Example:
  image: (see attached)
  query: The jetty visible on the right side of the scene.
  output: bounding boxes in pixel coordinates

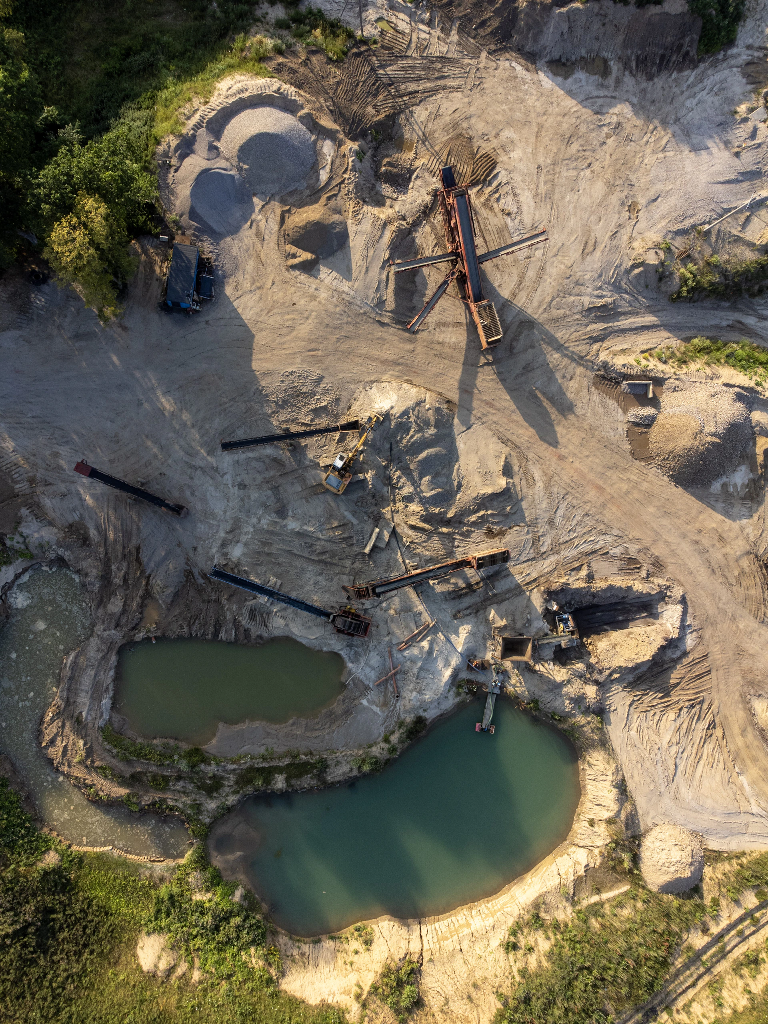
[474,692,497,734]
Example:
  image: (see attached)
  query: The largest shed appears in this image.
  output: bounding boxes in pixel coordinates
[166,242,203,311]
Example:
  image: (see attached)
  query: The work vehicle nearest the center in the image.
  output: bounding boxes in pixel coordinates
[321,413,378,491]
